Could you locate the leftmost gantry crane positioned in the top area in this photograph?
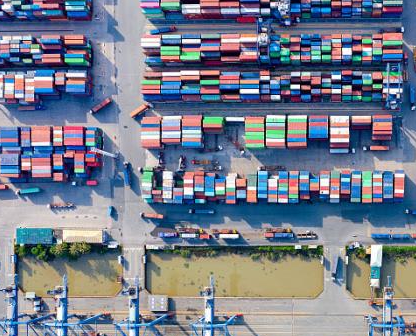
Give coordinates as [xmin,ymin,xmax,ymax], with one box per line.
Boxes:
[254,22,276,74]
